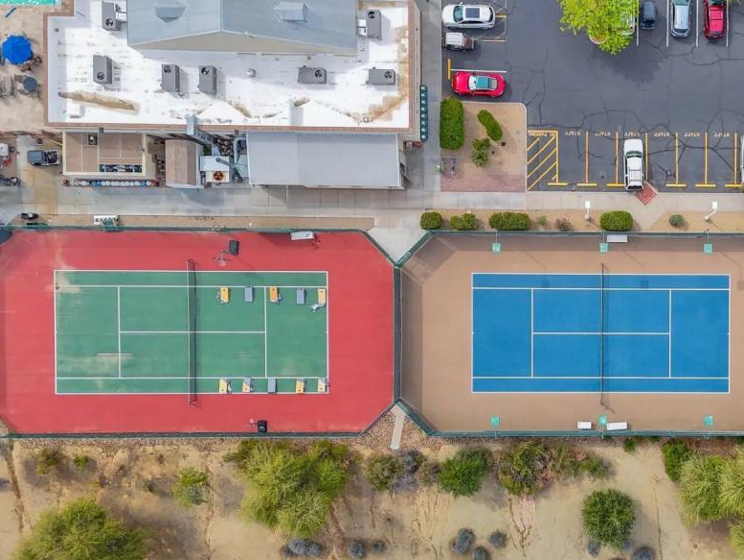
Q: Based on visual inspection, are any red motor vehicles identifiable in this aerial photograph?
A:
Yes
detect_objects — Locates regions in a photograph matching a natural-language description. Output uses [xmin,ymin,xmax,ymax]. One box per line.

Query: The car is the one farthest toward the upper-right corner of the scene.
[702,0,727,42]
